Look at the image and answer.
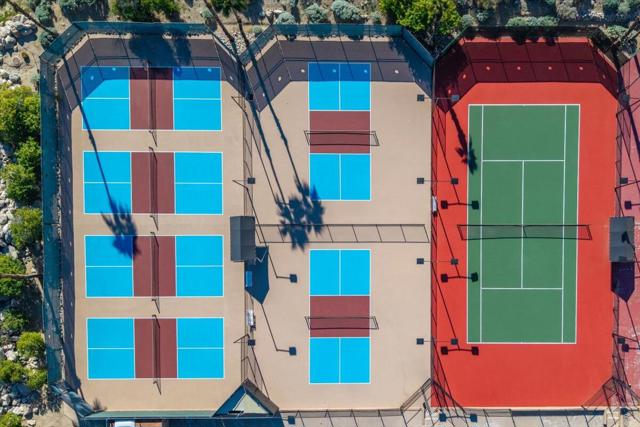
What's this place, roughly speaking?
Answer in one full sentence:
The area seen from above is a sports ground.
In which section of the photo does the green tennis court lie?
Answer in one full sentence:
The green tennis court appears toward the right of the photo.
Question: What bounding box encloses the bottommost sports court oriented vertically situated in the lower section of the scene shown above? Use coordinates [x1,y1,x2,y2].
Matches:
[309,249,371,384]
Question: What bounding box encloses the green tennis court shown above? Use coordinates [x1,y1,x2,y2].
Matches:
[468,104,579,343]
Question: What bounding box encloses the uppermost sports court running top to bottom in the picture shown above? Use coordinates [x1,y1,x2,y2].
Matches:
[308,63,371,201]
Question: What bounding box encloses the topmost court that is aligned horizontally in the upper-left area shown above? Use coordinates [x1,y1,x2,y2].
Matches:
[82,66,221,130]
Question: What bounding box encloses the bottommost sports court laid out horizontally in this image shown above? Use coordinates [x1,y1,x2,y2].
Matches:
[87,318,224,379]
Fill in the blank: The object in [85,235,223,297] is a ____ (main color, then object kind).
blue sports court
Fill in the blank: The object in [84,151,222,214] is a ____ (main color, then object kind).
blue sports court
